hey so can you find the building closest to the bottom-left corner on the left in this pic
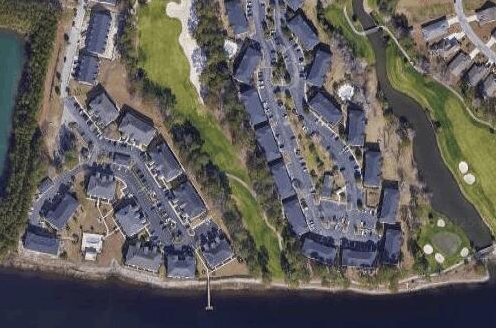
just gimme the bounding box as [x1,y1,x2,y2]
[24,231,60,256]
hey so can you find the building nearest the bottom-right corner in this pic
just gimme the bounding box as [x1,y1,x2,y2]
[382,228,401,265]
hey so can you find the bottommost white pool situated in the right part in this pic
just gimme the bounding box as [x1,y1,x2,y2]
[338,85,354,101]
